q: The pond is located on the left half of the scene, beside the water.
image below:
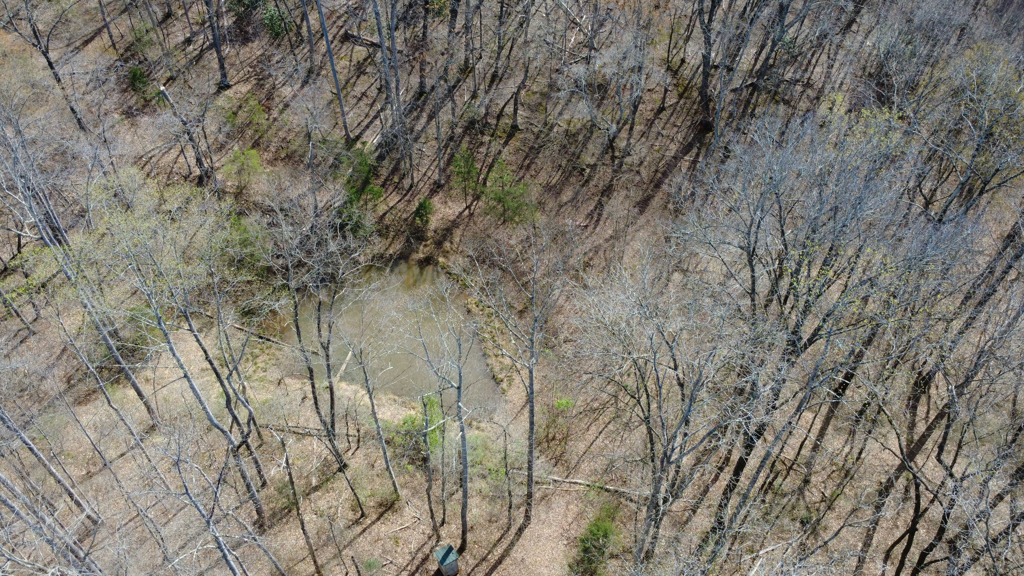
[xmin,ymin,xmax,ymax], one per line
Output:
[278,259,499,424]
